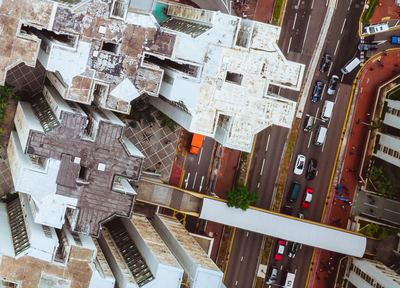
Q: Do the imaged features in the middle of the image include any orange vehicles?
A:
Yes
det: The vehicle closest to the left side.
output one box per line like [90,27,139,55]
[189,132,205,154]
